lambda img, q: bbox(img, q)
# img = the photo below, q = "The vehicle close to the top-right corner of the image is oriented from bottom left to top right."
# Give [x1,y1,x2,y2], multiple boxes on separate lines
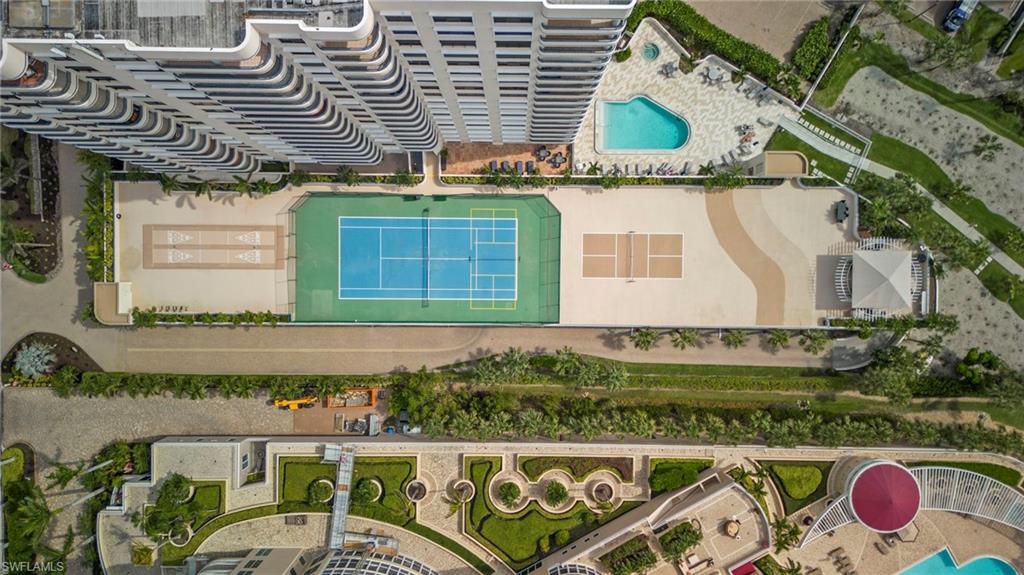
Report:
[941,0,984,34]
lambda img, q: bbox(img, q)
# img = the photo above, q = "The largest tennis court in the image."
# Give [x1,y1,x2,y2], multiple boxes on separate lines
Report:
[296,192,560,324]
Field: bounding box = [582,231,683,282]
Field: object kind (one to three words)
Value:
sports court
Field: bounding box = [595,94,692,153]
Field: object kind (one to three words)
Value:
swimming pool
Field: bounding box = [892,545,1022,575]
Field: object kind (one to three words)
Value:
swimming pool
